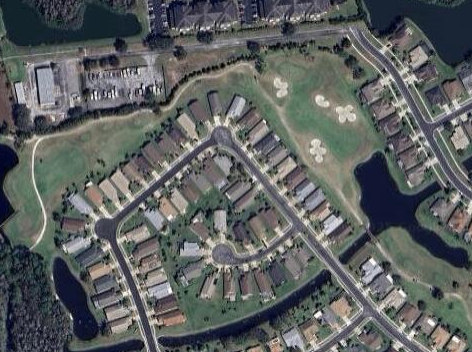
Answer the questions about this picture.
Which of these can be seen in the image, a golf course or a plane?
golf course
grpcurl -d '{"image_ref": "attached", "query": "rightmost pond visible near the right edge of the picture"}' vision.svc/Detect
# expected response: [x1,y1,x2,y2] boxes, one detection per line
[356,152,468,268]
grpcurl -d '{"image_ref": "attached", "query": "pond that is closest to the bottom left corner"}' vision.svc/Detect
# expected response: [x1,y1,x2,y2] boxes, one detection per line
[52,257,99,339]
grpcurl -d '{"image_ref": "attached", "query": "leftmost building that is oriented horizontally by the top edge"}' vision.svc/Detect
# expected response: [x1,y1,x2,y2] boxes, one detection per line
[171,0,238,31]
